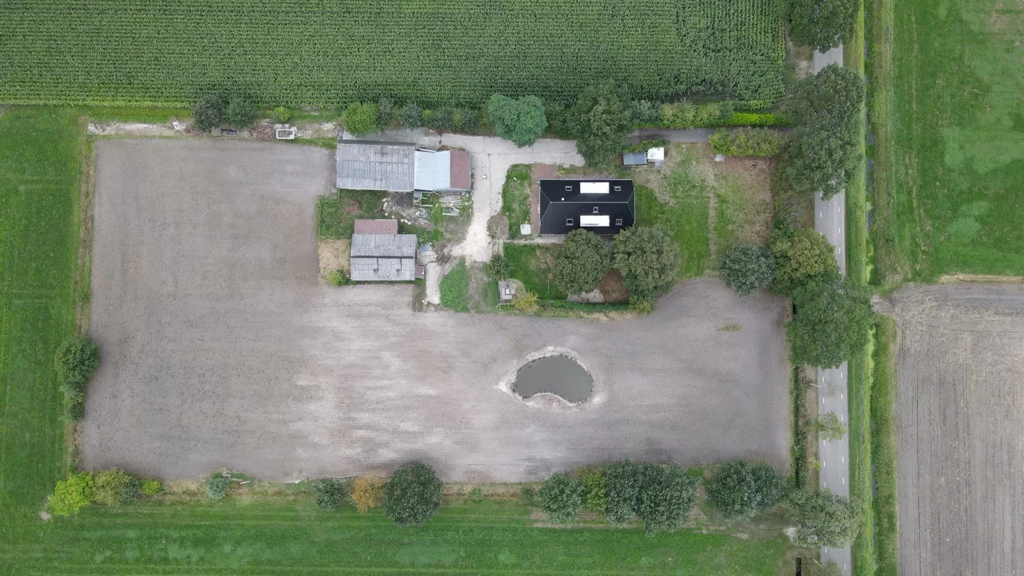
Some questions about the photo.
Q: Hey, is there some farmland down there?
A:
Yes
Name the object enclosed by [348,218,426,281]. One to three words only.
barn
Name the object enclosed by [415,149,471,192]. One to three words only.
shed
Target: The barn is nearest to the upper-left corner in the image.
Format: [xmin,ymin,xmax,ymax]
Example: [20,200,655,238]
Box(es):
[334,139,416,192]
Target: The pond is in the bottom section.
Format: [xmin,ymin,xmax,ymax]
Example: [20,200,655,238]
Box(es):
[512,355,593,404]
